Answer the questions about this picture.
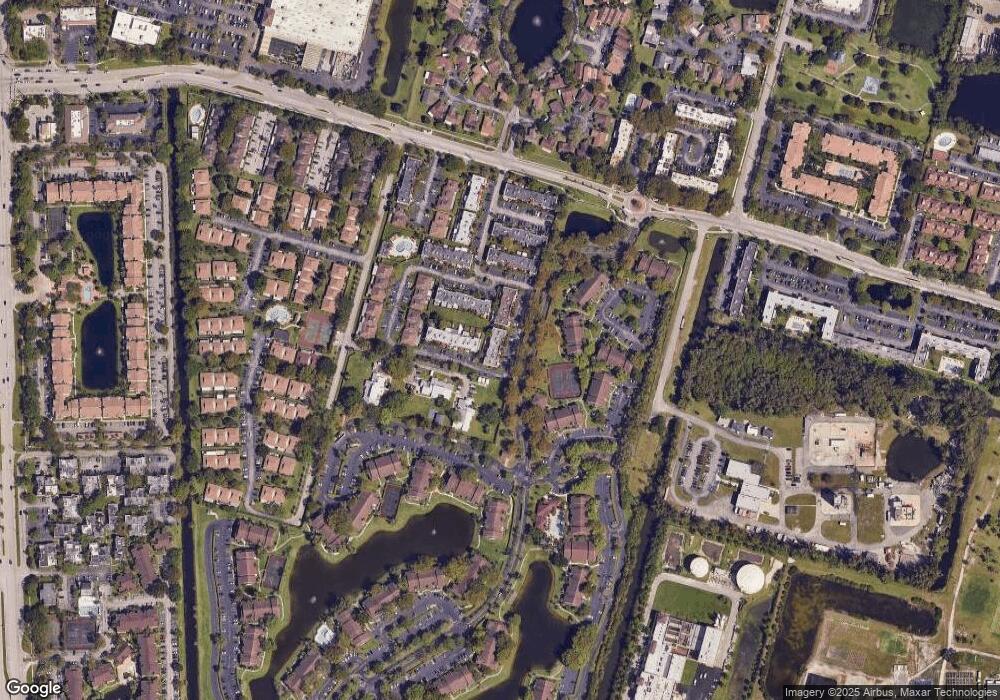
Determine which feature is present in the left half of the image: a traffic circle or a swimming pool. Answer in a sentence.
The one visible in the left half of the image is a swimming pool.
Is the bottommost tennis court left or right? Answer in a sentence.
You can find the bottommost tennis court on the left side of the picture.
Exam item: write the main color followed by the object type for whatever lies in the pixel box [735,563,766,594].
white storage tank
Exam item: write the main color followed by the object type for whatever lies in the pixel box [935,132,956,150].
white swimming pool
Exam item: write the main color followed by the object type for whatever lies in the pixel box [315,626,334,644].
white swimming pool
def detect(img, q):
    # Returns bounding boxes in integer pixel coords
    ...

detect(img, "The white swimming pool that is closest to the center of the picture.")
[390,235,416,257]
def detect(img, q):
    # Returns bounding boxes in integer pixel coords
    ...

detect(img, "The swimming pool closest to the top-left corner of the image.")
[188,105,205,124]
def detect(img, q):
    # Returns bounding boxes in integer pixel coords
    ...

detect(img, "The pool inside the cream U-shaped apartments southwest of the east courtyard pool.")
[939,357,963,376]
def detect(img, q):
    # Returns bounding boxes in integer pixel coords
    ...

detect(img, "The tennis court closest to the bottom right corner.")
[550,362,581,398]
